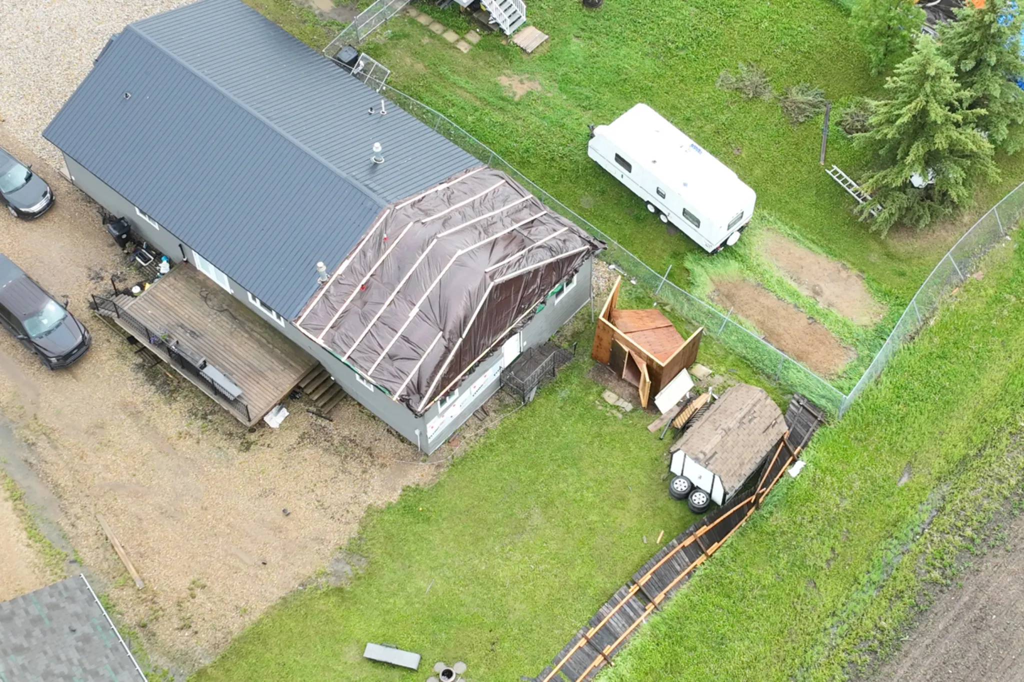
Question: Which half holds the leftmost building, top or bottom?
bottom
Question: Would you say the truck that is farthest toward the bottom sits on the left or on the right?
left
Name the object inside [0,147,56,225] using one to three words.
car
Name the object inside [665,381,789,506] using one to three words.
shed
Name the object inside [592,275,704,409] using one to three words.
shed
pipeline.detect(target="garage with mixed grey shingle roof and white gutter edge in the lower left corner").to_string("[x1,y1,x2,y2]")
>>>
[0,574,150,682]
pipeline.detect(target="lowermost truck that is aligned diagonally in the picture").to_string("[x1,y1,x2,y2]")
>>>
[0,256,94,371]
